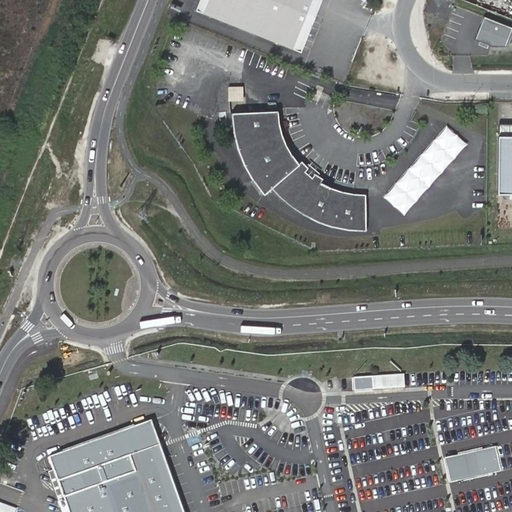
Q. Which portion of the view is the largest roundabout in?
left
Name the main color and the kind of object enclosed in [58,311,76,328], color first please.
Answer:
white vehicle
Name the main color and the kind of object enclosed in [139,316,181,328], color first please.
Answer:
white vehicle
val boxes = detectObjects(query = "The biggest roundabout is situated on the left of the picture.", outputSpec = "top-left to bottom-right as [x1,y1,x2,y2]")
[38,215,164,346]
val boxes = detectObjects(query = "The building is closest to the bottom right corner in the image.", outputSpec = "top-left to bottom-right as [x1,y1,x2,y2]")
[445,445,502,482]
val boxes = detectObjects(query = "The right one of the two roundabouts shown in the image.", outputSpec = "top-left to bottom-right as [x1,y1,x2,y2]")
[280,375,326,421]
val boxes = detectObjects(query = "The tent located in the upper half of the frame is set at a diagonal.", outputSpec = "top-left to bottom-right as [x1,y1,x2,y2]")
[384,126,468,216]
